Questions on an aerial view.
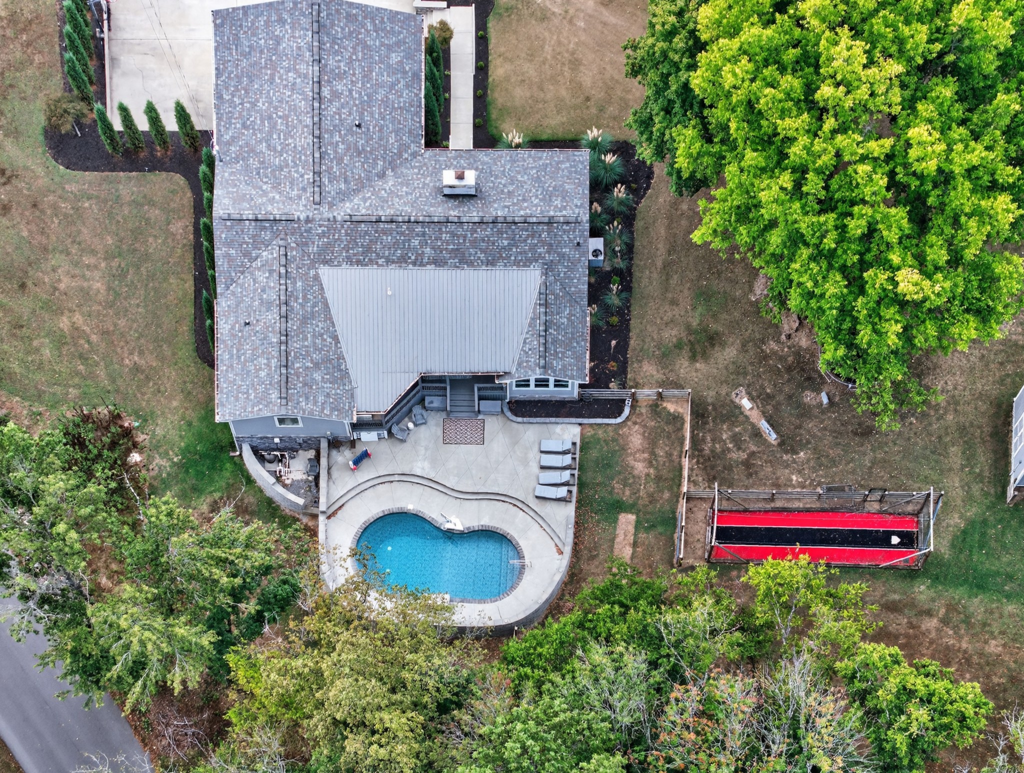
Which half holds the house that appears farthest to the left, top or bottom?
top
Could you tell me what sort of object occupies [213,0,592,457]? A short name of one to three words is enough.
house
